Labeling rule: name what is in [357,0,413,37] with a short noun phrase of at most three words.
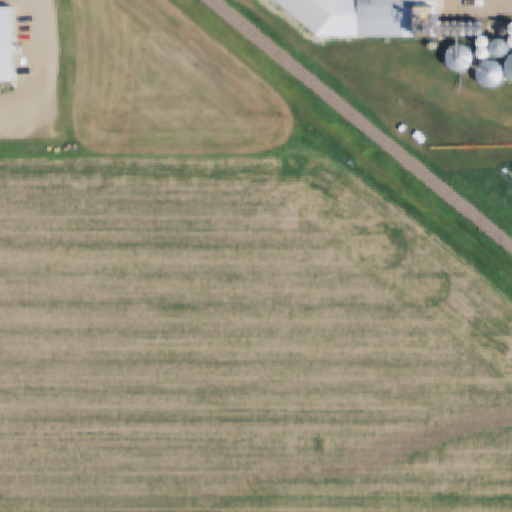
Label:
building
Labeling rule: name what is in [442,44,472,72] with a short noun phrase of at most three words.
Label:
silo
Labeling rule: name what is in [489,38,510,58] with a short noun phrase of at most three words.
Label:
silo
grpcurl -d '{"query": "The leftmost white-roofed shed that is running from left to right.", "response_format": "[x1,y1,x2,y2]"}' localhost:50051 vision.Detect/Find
[273,0,357,37]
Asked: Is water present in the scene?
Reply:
No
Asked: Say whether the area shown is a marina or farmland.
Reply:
farmland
